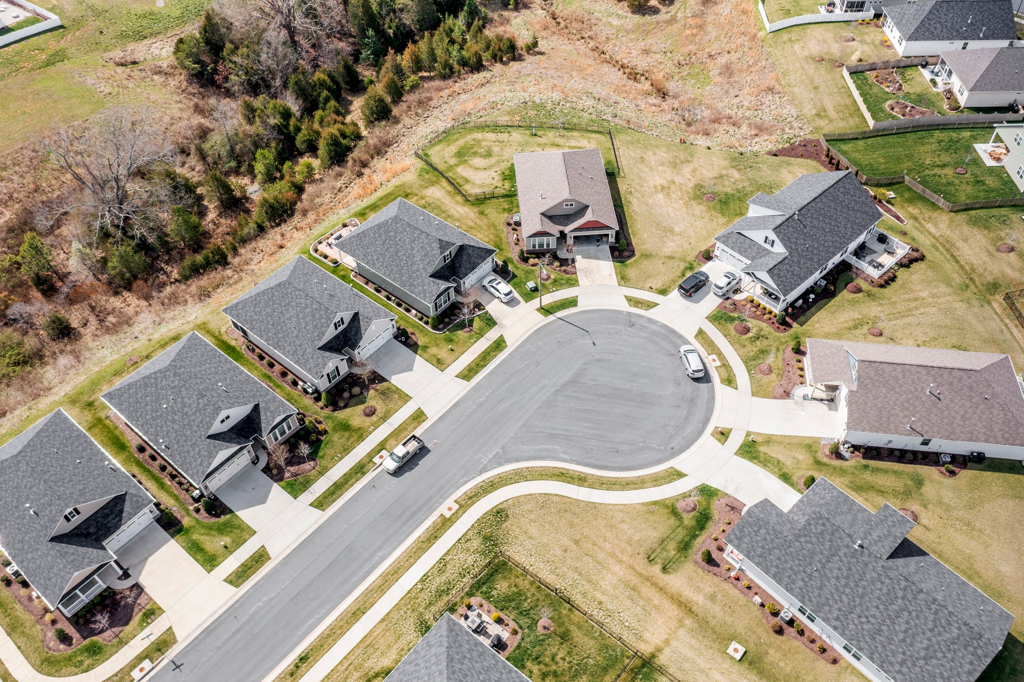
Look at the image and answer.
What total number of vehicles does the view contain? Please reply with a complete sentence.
There are 5 vehicles in the image.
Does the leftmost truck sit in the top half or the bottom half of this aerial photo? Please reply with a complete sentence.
The leftmost truck is in the bottom half of the image.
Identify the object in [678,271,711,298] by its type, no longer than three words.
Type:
car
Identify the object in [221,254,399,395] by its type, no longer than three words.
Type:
house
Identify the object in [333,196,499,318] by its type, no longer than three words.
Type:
house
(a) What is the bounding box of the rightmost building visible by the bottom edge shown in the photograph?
[722,476,1018,682]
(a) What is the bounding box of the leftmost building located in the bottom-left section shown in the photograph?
[0,407,162,619]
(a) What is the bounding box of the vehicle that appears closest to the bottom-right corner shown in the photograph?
[678,345,706,380]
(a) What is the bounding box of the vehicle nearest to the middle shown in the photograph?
[481,276,515,304]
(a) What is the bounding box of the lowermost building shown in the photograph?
[382,613,530,682]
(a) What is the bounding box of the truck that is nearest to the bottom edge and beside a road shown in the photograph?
[379,434,425,476]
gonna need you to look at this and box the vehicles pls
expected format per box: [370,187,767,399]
[379,434,425,476]
[678,271,711,298]
[678,345,706,380]
[481,276,515,304]
[710,270,743,297]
